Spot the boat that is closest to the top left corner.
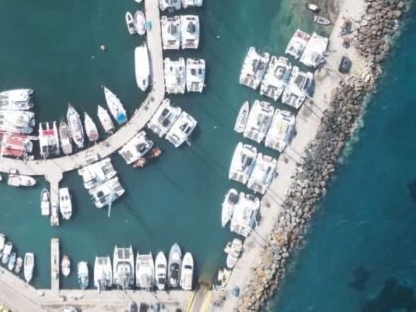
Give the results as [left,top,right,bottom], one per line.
[0,89,33,115]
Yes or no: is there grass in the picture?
No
